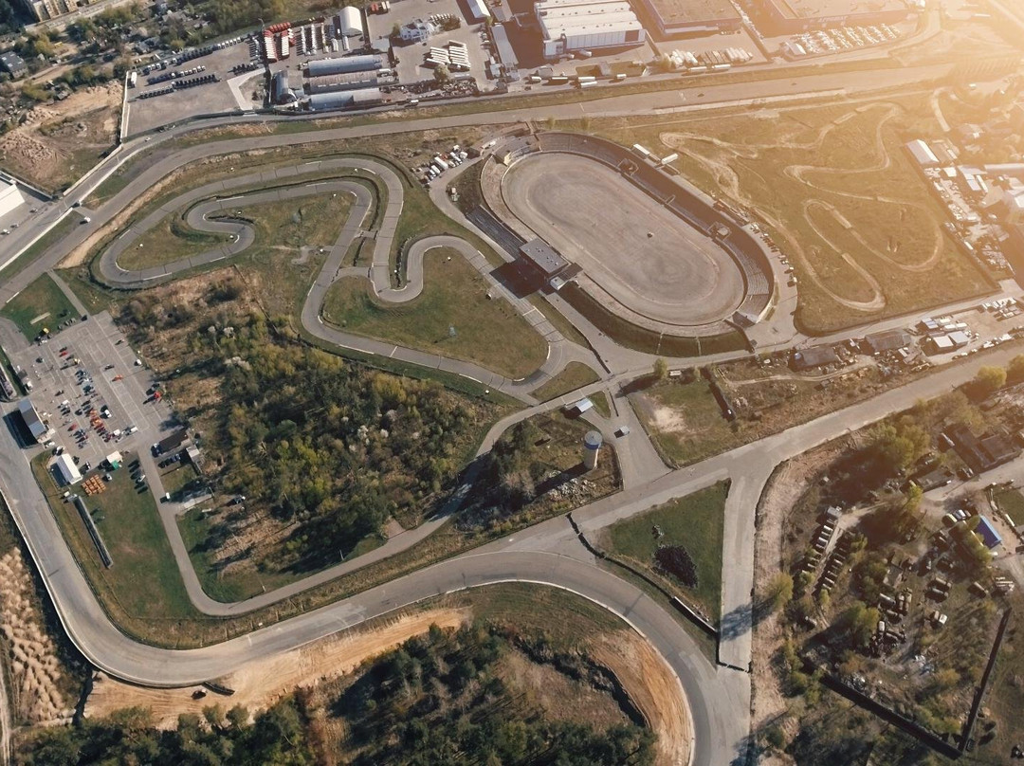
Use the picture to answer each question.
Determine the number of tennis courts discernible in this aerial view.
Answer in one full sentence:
No tennis courts are visible.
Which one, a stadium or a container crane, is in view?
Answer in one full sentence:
Looking from above, you can make out a stadium.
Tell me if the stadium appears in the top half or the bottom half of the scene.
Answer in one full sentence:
The stadium sits in the top half of the picture.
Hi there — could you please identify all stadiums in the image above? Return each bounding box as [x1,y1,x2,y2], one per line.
[454,129,778,354]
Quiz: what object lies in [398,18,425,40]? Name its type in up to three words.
house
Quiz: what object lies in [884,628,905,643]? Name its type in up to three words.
vehicle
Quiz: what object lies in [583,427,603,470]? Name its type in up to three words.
water tower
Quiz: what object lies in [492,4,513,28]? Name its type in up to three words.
building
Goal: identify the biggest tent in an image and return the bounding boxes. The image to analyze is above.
[54,452,82,485]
